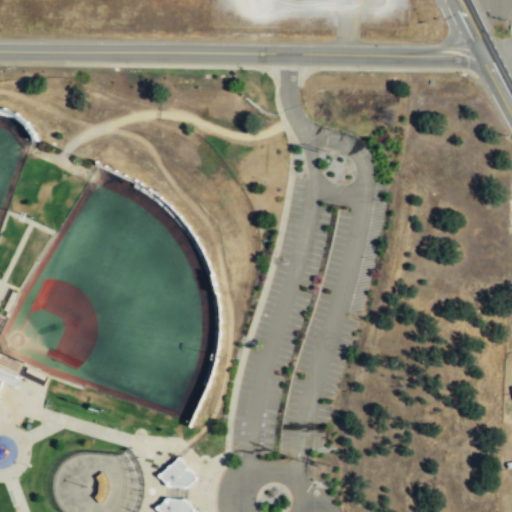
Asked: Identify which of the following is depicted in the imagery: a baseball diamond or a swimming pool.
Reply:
baseball diamond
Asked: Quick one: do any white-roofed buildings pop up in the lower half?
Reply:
Yes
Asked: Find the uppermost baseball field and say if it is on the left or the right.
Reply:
left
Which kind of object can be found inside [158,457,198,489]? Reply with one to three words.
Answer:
building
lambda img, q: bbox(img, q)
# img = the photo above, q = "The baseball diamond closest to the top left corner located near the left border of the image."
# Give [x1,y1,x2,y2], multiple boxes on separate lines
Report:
[0,112,38,226]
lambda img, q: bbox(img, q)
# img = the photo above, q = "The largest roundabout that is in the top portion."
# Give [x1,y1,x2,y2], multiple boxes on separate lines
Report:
[322,148,358,186]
